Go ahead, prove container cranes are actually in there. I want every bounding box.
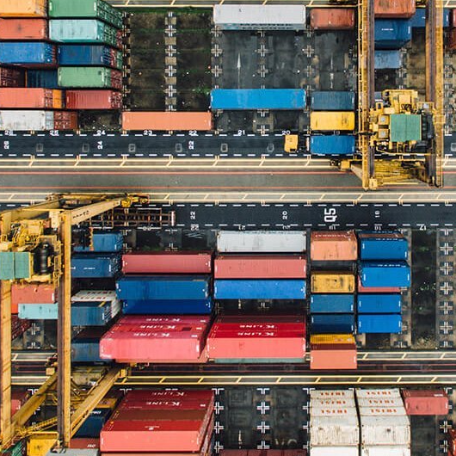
[0,188,149,456]
[330,0,446,189]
